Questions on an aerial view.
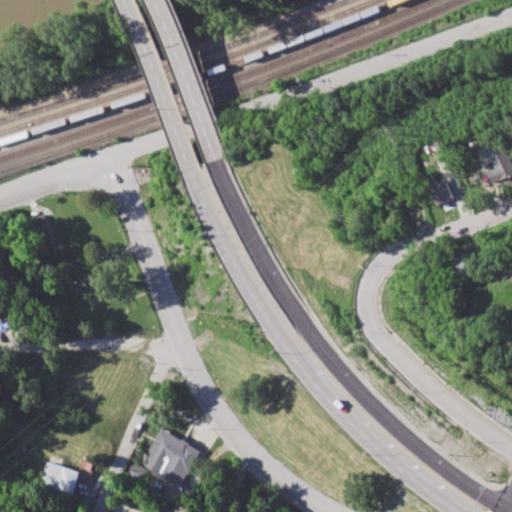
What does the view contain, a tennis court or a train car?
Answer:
train car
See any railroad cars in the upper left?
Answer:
Yes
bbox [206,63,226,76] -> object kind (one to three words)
rail car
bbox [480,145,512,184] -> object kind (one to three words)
house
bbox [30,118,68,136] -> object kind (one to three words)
rail car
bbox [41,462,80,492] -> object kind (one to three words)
house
